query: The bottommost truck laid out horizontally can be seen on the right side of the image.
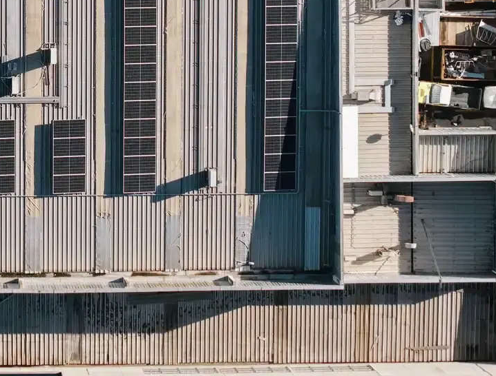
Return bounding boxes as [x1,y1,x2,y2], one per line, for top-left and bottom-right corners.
[419,79,486,110]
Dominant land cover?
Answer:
buildings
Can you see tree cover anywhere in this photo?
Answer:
No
